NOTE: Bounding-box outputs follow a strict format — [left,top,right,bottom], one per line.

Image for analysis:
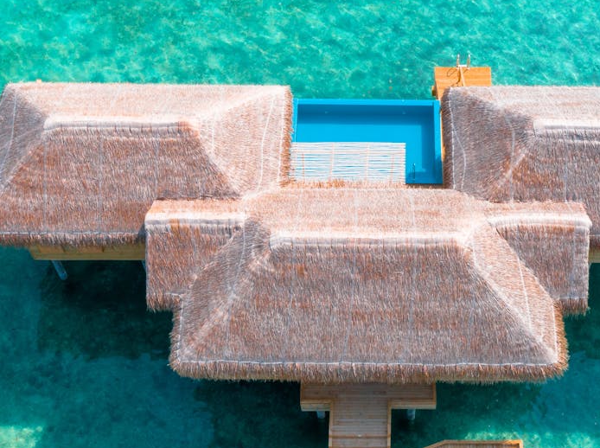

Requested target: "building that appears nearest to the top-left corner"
[0,82,297,293]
